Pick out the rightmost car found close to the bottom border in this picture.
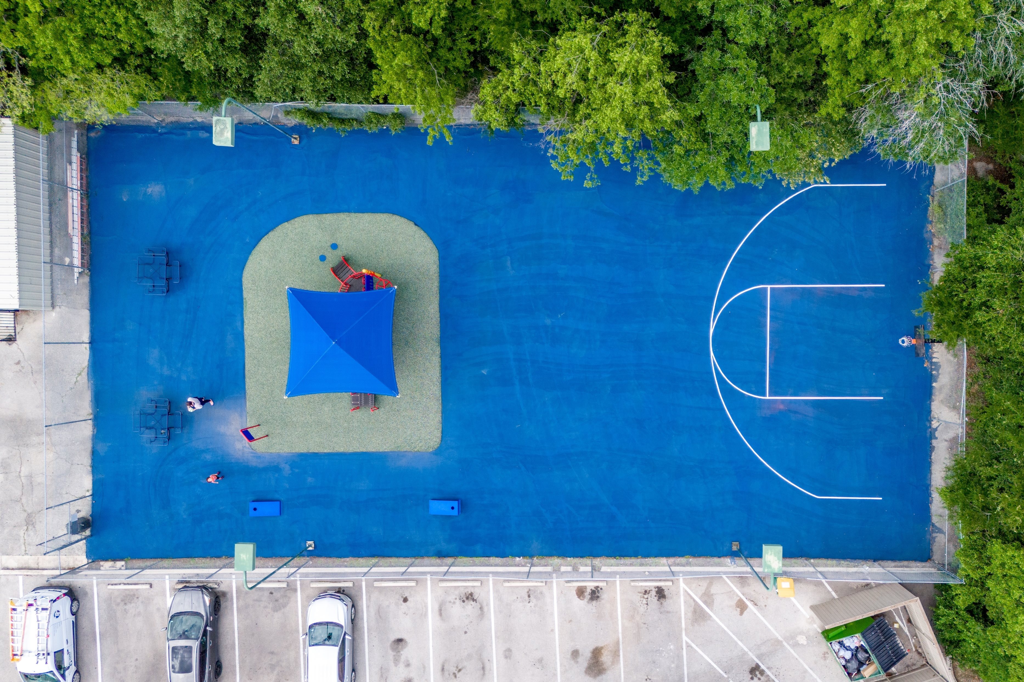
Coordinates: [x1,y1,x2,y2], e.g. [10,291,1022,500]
[300,590,358,682]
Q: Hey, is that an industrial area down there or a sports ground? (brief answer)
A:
sports ground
